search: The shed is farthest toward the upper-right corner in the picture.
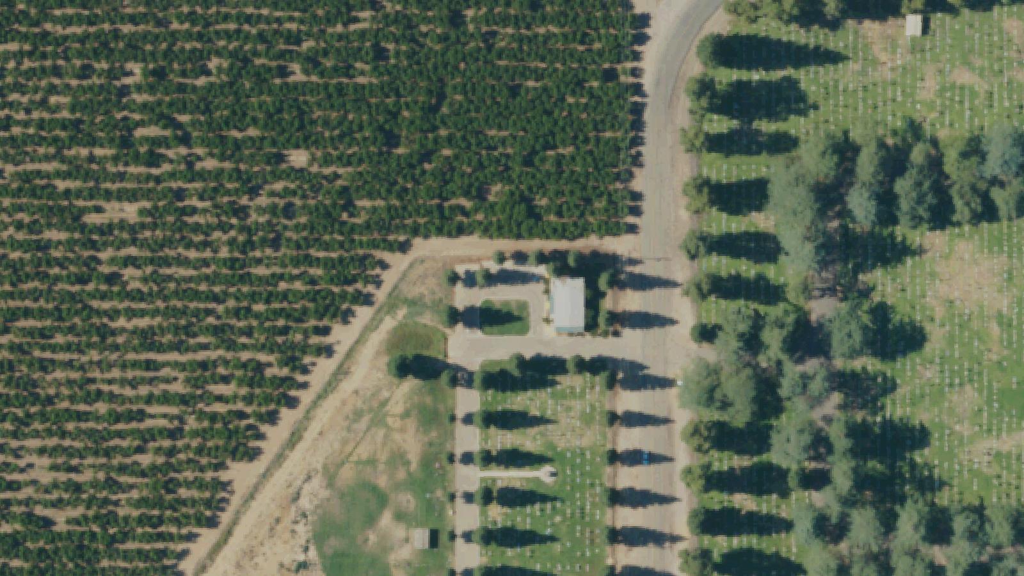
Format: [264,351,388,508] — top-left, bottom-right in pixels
[906,14,922,35]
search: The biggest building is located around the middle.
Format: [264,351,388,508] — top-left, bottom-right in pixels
[548,277,584,338]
